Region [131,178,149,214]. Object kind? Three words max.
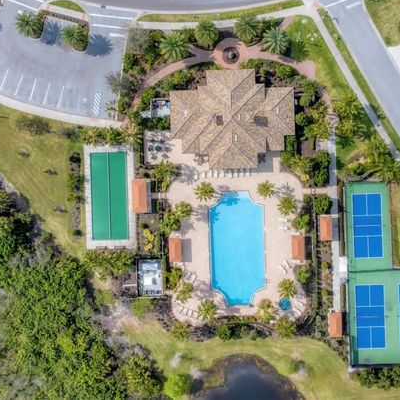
building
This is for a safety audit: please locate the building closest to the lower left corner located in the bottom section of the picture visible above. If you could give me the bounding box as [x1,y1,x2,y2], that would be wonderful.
[167,237,182,263]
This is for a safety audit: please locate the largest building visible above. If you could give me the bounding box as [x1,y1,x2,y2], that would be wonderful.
[169,69,294,169]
